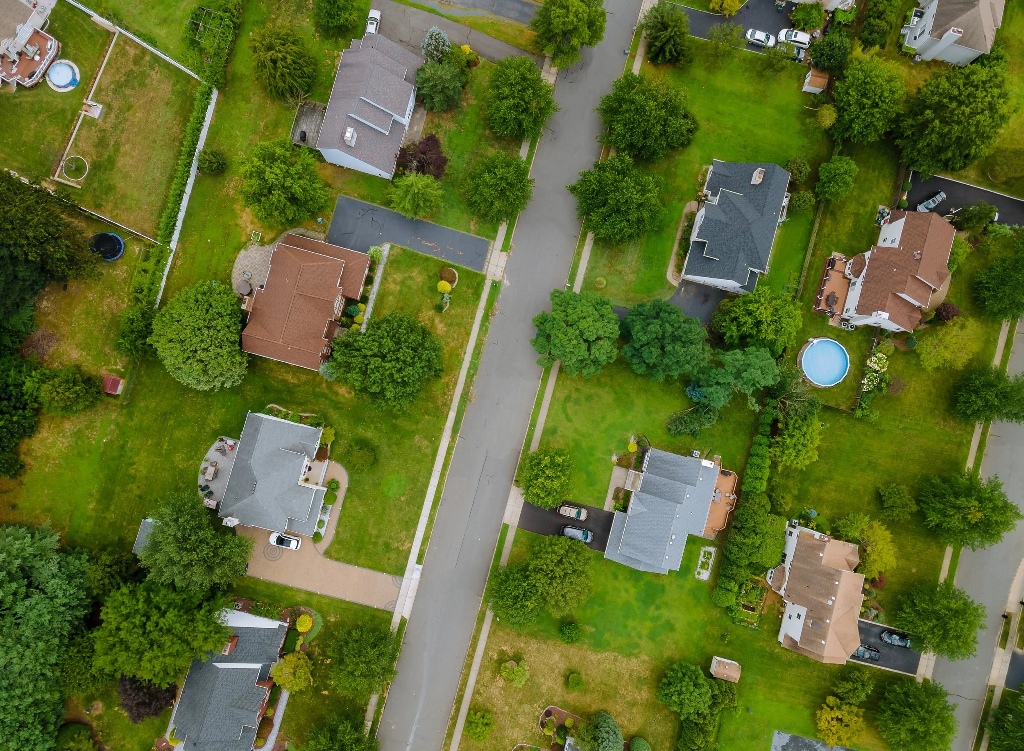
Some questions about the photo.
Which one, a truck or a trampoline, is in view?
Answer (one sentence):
It is a trampoline that can be seen here.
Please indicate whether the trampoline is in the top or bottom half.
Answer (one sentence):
Seen from above, the trampoline lies in the top half of the view.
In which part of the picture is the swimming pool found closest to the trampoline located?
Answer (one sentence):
The swimming pool found closest to the trampoline sits in the top left section of the image.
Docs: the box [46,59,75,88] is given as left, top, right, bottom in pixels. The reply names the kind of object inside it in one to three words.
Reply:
swimming pool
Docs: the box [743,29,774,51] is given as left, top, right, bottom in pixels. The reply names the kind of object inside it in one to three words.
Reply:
car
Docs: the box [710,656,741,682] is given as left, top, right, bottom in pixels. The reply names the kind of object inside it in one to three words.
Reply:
shed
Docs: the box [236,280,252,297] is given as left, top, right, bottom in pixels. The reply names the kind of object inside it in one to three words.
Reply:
umbrella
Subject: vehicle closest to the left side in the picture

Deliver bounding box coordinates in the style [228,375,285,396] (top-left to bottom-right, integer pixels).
[269,533,303,551]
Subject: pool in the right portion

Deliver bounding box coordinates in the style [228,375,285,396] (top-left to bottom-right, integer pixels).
[804,338,853,385]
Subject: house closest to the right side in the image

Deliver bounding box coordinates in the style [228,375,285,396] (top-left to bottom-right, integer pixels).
[909,0,1008,69]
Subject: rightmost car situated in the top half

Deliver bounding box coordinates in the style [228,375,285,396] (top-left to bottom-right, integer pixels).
[913,190,948,210]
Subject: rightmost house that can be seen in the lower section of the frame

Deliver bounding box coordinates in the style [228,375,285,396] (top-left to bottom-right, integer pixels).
[762,525,870,663]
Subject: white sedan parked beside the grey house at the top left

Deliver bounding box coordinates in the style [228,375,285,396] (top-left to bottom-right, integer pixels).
[364,9,382,34]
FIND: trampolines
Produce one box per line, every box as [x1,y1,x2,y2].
[91,230,126,262]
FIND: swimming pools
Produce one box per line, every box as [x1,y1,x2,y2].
[46,59,75,88]
[804,338,853,385]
